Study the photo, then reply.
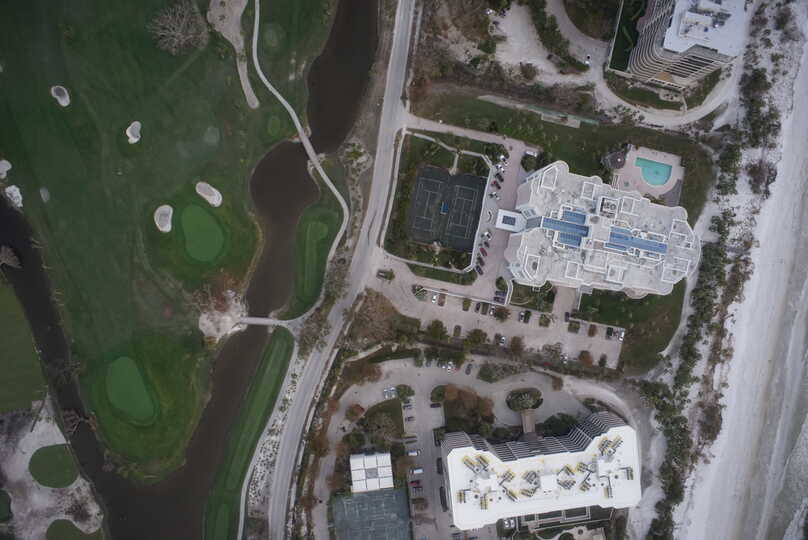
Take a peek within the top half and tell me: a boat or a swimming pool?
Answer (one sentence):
It is a swimming pool that can be seen within the top half.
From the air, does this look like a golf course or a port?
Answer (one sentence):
The picture captures a golf course.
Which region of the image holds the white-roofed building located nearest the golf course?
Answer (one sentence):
The white-roofed building located nearest the golf course is located in the bottom region of the scene.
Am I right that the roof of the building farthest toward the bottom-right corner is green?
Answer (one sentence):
No, the roof of the building farthest toward the bottom-right corner is actually white.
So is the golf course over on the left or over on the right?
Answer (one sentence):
The golf course appears in the left half of the scene.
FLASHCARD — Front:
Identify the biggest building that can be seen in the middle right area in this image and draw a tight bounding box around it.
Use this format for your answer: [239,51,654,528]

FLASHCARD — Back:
[499,160,701,299]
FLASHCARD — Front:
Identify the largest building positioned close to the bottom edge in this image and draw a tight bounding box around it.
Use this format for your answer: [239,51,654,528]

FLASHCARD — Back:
[443,411,642,531]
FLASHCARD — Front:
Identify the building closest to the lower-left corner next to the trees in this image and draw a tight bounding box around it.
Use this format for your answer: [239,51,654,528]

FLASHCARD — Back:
[350,452,394,493]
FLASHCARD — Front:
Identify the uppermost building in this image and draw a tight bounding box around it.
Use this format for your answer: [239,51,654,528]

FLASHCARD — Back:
[630,0,746,79]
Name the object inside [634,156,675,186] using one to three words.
swimming pool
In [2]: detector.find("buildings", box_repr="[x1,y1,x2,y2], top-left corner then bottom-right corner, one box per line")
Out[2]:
[443,411,642,531]
[630,0,746,79]
[350,452,394,493]
[499,160,701,299]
